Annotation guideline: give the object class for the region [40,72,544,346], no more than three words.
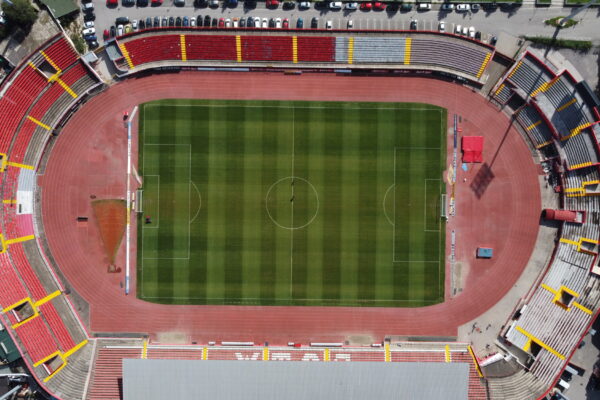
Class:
running track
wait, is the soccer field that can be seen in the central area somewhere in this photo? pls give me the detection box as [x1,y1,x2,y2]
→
[137,101,447,306]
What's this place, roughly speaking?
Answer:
sports ground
